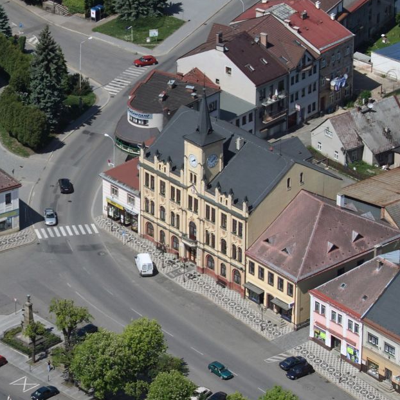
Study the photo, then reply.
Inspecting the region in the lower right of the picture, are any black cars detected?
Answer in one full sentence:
Yes, in the lower right of the picture there is a black car.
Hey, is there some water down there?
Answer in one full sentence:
No, no water is visible.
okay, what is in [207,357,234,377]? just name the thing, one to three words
car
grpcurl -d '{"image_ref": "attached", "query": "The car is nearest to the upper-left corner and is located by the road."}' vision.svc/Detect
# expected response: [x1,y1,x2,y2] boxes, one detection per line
[133,52,158,65]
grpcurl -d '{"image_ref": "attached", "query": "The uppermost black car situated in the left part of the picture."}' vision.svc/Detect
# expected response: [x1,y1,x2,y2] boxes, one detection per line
[59,176,73,193]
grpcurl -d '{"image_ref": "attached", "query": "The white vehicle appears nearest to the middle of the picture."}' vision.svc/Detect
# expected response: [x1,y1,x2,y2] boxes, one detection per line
[137,254,152,271]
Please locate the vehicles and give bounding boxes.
[59,176,73,193]
[0,351,9,364]
[44,205,57,224]
[137,254,152,271]
[133,52,158,65]
[288,360,316,378]
[279,353,308,369]
[207,357,234,377]
[30,384,59,400]
[207,389,229,400]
